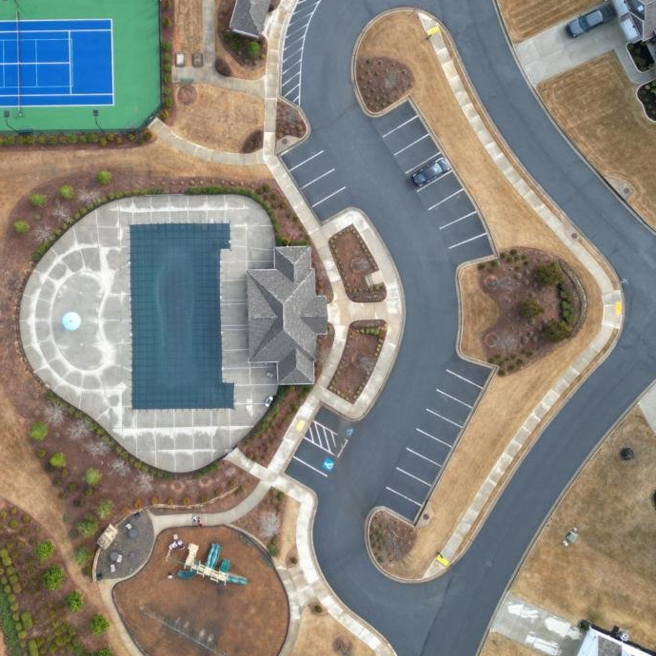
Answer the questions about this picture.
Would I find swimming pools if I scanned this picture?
Yes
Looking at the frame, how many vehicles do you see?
two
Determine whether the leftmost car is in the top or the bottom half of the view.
top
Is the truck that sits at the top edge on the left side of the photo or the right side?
right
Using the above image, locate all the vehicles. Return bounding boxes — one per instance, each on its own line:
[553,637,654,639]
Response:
[561,3,616,41]
[411,157,450,189]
